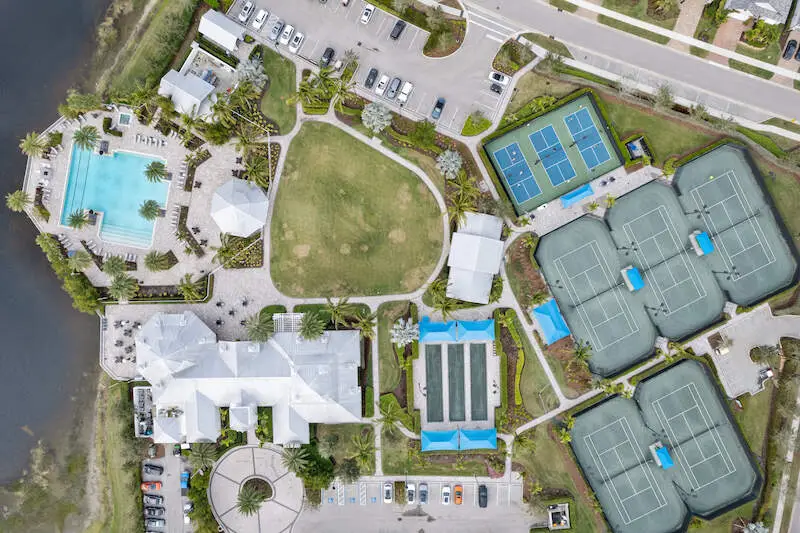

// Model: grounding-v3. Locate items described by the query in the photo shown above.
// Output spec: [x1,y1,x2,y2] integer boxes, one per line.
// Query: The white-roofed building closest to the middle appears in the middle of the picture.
[446,211,505,304]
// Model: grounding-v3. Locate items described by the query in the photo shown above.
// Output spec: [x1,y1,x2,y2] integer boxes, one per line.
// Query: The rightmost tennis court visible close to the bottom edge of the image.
[638,361,759,515]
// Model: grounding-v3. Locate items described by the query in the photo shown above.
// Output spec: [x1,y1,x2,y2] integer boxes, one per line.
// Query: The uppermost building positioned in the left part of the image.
[198,9,245,54]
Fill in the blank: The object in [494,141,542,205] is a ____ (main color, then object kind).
blue sports court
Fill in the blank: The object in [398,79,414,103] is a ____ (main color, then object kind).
white vehicle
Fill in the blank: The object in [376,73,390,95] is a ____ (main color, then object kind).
white car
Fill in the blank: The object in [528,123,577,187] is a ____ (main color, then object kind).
blue sports court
